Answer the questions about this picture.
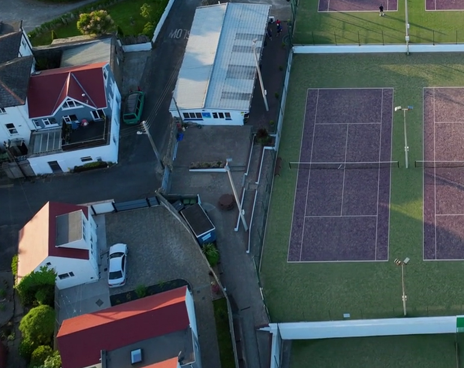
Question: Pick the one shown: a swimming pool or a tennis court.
tennis court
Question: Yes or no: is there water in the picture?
No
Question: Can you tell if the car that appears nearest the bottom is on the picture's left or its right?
left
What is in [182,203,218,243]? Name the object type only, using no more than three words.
shed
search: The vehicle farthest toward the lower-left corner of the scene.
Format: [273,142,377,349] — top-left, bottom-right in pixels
[106,245,127,287]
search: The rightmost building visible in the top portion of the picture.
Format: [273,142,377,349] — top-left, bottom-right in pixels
[169,1,270,125]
